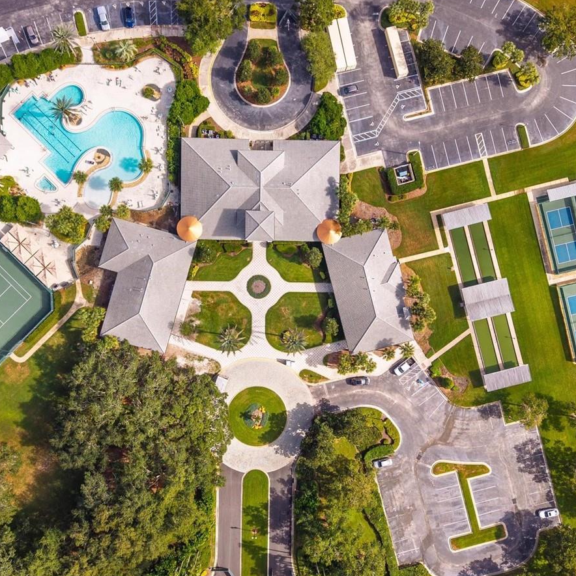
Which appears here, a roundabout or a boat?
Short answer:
roundabout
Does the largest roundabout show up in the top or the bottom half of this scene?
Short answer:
bottom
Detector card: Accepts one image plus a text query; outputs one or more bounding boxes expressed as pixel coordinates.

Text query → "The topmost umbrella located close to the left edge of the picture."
[0,224,39,264]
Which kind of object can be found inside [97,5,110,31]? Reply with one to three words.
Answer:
vehicle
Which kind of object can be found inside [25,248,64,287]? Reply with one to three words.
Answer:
umbrella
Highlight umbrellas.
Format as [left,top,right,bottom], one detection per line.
[165,84,175,95]
[0,224,39,264]
[25,248,64,287]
